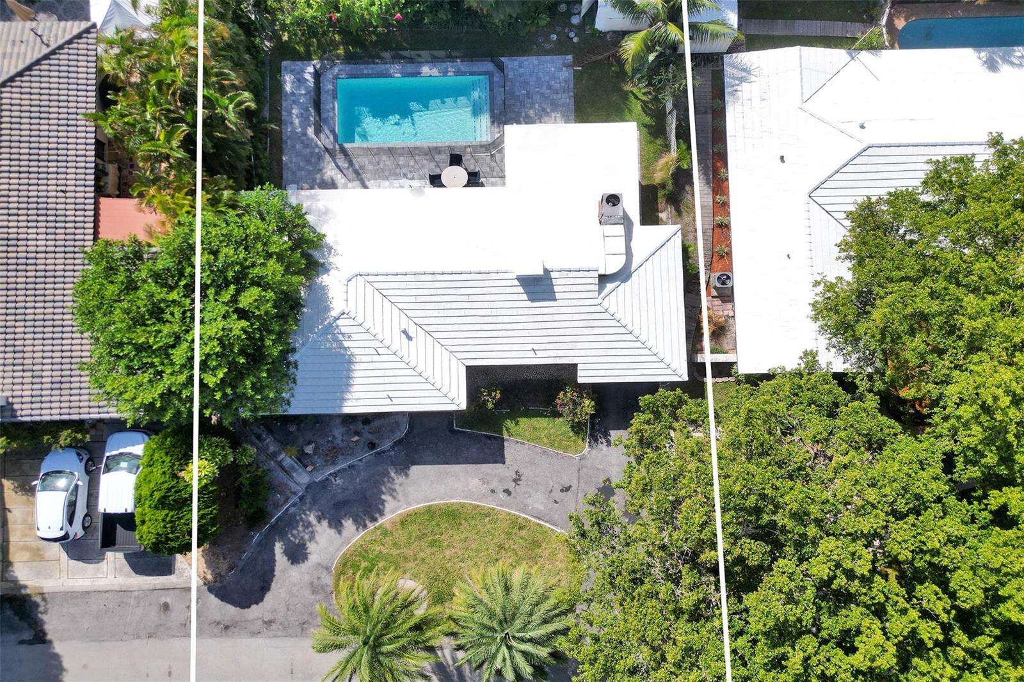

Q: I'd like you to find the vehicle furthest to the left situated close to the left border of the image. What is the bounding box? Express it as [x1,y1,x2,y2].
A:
[36,448,94,542]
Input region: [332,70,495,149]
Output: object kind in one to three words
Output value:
swimming pool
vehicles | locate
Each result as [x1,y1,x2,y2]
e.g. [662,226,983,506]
[94,430,150,554]
[36,448,94,542]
